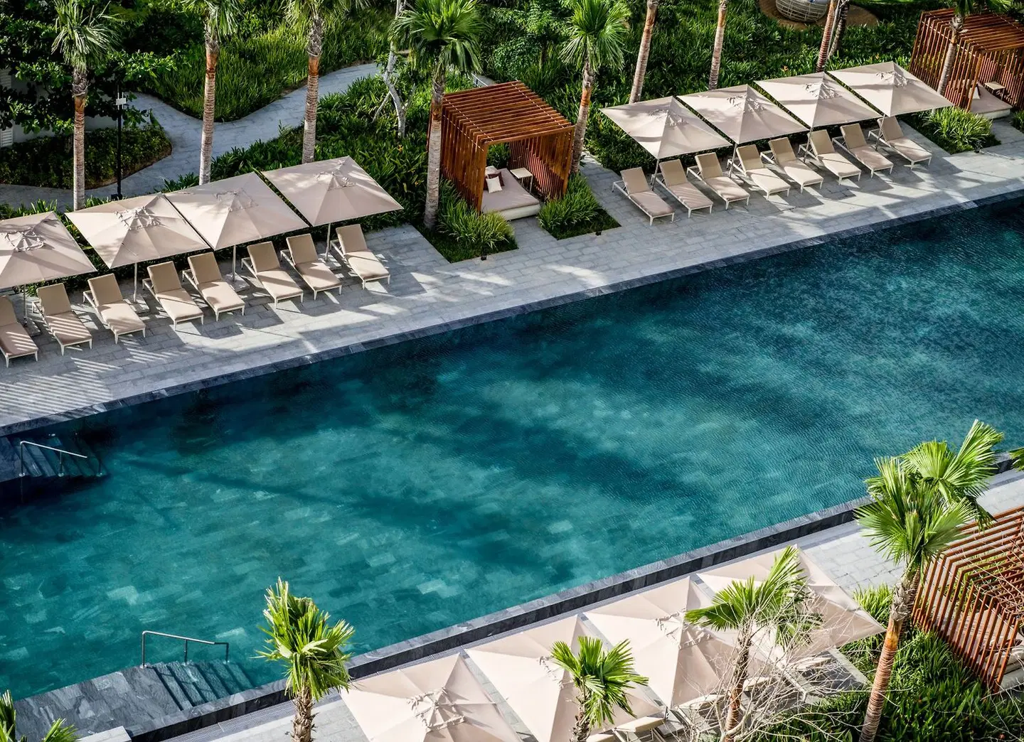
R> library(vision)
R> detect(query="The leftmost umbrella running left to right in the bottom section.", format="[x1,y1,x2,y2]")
[342,652,532,742]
